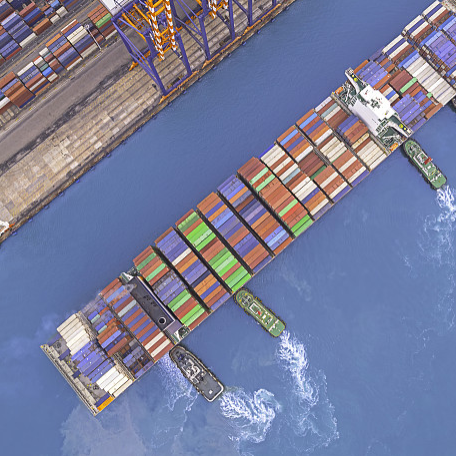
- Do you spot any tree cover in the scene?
No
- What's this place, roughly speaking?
port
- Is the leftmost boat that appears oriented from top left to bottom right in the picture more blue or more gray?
gray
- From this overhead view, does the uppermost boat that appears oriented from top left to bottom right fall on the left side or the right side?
right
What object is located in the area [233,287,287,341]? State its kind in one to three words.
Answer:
boat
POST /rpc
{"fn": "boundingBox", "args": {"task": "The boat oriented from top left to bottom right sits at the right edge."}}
[403,136,449,190]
